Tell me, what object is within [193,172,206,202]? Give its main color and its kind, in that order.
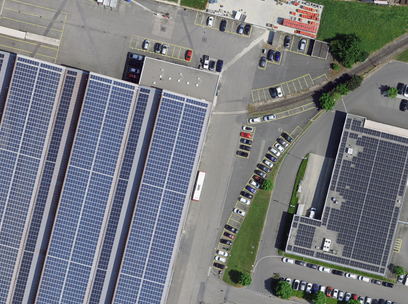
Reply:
white vehicle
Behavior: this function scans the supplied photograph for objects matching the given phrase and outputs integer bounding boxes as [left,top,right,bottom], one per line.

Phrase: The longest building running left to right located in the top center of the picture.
[138,56,220,102]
